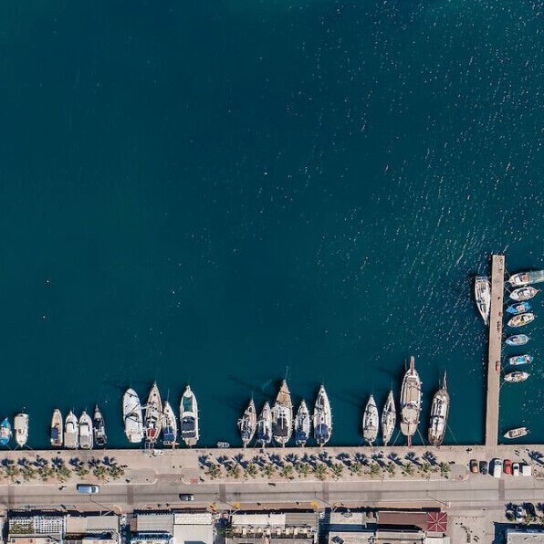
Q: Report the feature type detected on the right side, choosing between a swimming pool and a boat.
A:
boat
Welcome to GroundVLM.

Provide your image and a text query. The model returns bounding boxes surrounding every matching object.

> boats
[510,286,537,301]
[255,401,273,447]
[0,416,13,446]
[474,276,490,325]
[155,401,177,448]
[15,413,30,447]
[294,400,310,447]
[123,384,144,445]
[49,406,65,448]
[509,355,533,365]
[506,314,535,327]
[381,391,397,446]
[505,334,530,346]
[64,409,79,448]
[311,385,332,446]
[92,403,108,447]
[136,381,163,447]
[238,398,258,447]
[504,371,529,382]
[362,395,379,446]
[506,302,531,312]
[504,269,544,286]
[268,379,294,447]
[78,411,95,448]
[216,441,230,447]
[180,385,200,447]
[503,428,529,438]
